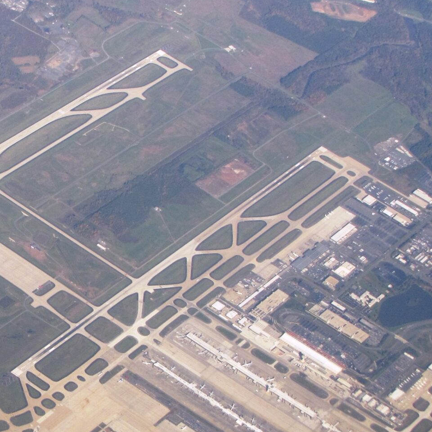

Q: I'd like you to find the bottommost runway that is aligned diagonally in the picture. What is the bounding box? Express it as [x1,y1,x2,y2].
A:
[14,146,325,375]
